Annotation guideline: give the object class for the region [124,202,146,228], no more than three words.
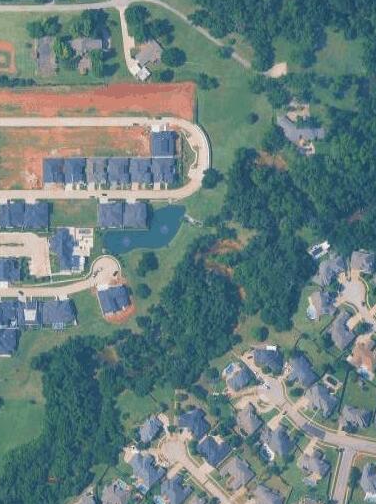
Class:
house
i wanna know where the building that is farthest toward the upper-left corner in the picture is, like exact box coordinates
[70,35,104,69]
